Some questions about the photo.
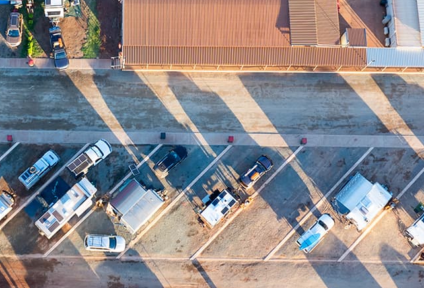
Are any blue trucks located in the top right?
No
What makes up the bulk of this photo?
paved ground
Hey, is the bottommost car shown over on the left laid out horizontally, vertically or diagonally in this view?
horizontally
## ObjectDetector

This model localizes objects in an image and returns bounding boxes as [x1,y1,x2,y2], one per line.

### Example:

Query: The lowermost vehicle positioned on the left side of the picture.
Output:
[85,233,125,253]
